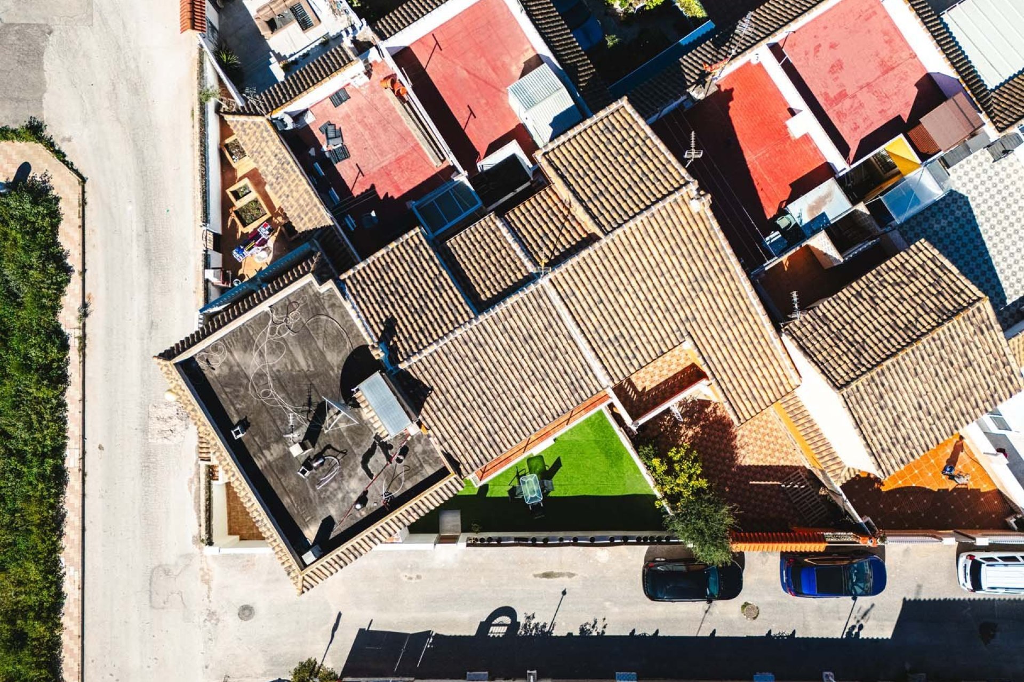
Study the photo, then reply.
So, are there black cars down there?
Yes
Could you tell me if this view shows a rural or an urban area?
urban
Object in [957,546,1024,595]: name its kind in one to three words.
car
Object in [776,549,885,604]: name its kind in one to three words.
car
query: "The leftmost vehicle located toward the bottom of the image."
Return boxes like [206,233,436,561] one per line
[640,554,742,609]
